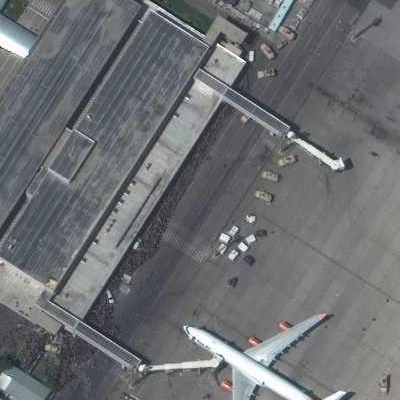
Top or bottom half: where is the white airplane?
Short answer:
bottom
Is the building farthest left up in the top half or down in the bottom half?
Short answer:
bottom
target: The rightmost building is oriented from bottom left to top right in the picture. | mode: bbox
[269,0,295,33]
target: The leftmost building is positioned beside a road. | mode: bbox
[0,367,52,400]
